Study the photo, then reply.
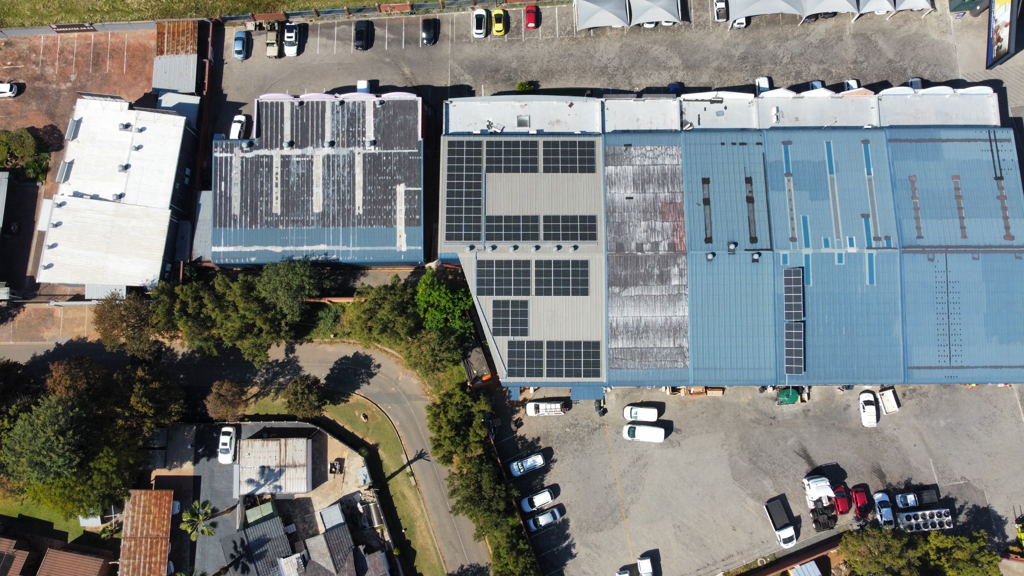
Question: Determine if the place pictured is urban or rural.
urban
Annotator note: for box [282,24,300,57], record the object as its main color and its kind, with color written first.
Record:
white car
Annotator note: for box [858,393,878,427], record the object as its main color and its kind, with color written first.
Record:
white vehicle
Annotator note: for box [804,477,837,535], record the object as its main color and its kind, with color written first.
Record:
white truck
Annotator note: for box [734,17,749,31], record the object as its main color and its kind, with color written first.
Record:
white vehicle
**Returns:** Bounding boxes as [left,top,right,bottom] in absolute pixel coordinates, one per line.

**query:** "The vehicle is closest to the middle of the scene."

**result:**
[525,401,565,418]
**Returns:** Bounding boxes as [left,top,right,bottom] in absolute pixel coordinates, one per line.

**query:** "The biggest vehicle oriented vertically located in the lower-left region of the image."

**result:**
[217,426,238,463]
